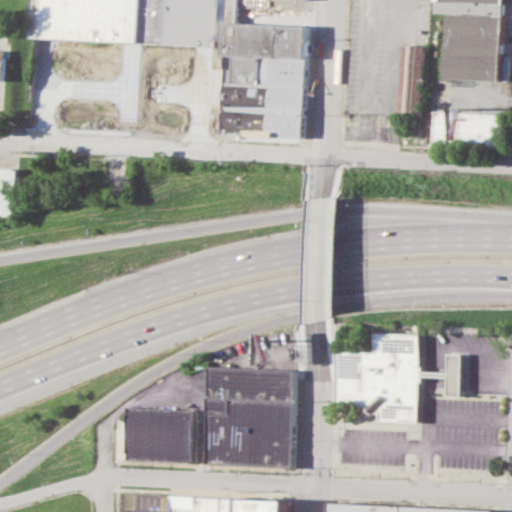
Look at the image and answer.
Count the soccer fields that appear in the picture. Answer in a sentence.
The count of soccer fields is 0.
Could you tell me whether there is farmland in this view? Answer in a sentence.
No, farmland can't be seen anywhere here.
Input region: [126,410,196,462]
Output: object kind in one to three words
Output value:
building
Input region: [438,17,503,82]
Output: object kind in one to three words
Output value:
building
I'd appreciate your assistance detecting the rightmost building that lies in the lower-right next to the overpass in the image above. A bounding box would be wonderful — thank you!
[336,326,422,422]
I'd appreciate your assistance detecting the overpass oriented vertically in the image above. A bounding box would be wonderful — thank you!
[299,196,348,326]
